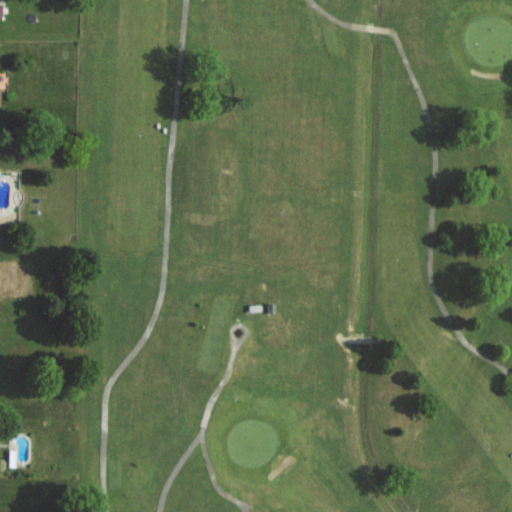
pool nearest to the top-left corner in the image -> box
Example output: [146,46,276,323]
[0,172,23,226]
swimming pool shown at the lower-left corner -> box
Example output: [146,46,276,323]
[9,435,30,467]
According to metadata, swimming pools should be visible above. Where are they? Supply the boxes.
[0,172,23,226]
[9,435,30,467]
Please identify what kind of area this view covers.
golf course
